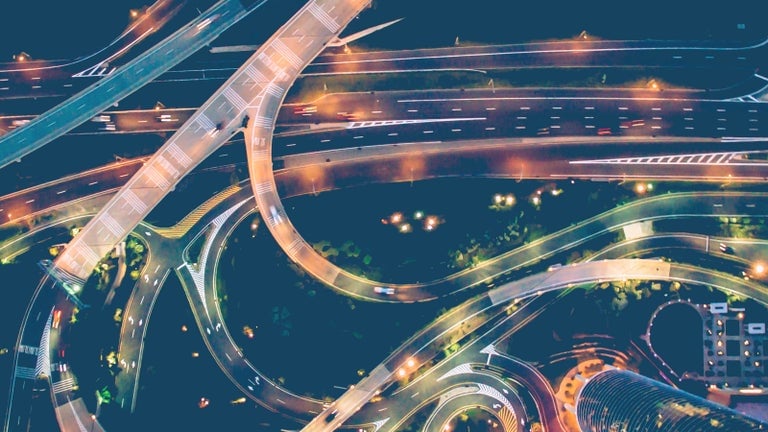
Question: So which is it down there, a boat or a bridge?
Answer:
bridge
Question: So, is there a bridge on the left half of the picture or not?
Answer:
Yes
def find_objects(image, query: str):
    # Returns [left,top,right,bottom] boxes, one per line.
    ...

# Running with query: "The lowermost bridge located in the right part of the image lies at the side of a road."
[300,259,768,432]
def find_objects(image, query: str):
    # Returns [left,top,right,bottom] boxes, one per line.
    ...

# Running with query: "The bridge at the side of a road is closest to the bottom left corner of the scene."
[2,265,104,432]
